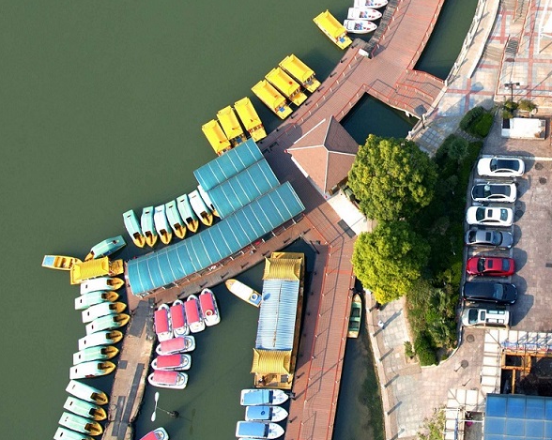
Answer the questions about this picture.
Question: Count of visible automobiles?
seven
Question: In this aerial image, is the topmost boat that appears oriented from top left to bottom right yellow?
Yes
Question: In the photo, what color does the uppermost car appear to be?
white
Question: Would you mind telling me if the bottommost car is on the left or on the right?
right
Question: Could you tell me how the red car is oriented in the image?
from side to side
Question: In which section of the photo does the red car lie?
right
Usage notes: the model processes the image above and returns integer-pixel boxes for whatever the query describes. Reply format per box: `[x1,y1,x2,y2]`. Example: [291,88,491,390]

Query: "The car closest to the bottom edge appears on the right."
[462,303,512,329]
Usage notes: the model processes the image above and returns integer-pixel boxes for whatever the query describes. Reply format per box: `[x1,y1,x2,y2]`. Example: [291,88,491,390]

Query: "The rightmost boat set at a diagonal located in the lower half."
[227,280,263,308]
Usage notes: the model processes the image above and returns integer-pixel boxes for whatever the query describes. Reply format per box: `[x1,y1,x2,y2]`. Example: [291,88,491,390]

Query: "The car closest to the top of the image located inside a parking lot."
[477,155,525,178]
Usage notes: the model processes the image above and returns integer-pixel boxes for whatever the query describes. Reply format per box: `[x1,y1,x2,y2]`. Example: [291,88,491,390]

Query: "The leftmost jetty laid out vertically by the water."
[104,306,158,427]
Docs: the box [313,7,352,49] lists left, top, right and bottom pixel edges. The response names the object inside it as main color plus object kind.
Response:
yellow boat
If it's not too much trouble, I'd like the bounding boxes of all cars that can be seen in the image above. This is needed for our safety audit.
[463,280,518,305]
[471,180,518,204]
[466,253,516,277]
[466,226,514,250]
[477,155,525,178]
[462,303,512,329]
[466,203,513,228]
